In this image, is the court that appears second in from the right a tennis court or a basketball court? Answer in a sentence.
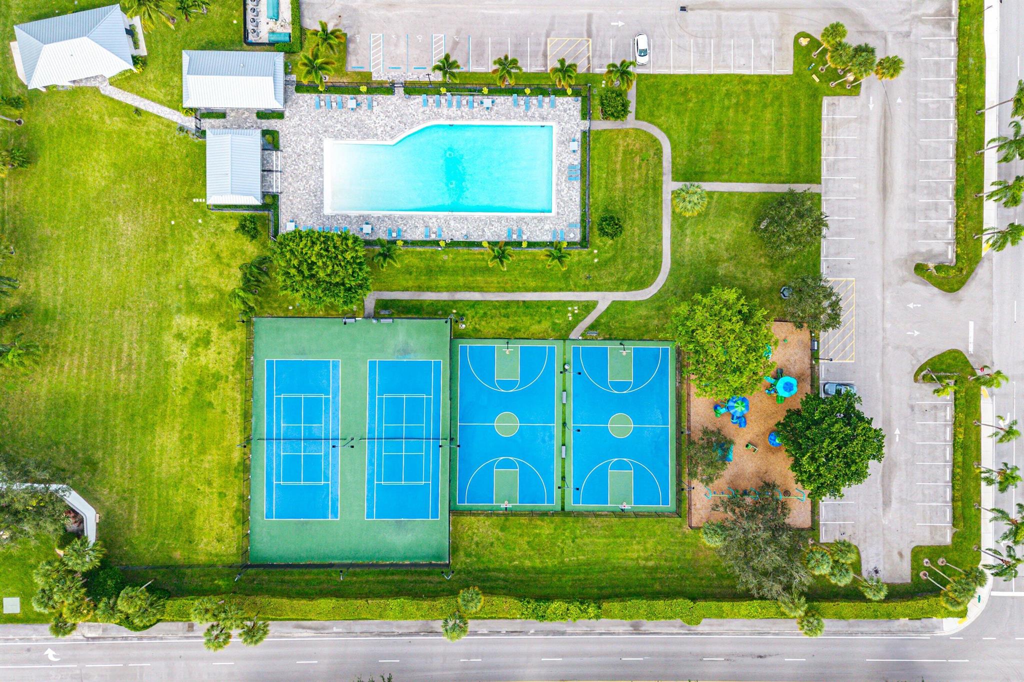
In the photo, the court that appears second in from the right shows up as a basketball court.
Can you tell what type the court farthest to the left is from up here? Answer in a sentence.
From above, the court farthest to the left can be identified as a tennis court.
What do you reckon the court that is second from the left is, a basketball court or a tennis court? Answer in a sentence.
From above, the court that is second from the left can be identified as a tennis court.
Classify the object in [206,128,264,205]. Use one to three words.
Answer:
building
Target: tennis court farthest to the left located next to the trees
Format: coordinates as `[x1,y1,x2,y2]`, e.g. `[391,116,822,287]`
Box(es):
[250,318,353,563]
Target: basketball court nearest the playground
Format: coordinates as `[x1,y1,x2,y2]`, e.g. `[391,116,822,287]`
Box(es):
[566,340,676,512]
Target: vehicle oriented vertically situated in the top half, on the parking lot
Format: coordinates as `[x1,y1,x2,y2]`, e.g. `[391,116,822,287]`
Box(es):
[634,33,650,65]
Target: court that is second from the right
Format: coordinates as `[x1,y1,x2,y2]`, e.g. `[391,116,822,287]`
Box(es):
[451,340,563,511]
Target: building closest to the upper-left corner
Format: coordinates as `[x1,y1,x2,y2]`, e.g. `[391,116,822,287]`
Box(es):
[13,4,140,91]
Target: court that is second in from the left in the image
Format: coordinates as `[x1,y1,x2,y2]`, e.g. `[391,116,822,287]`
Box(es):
[351,319,448,564]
